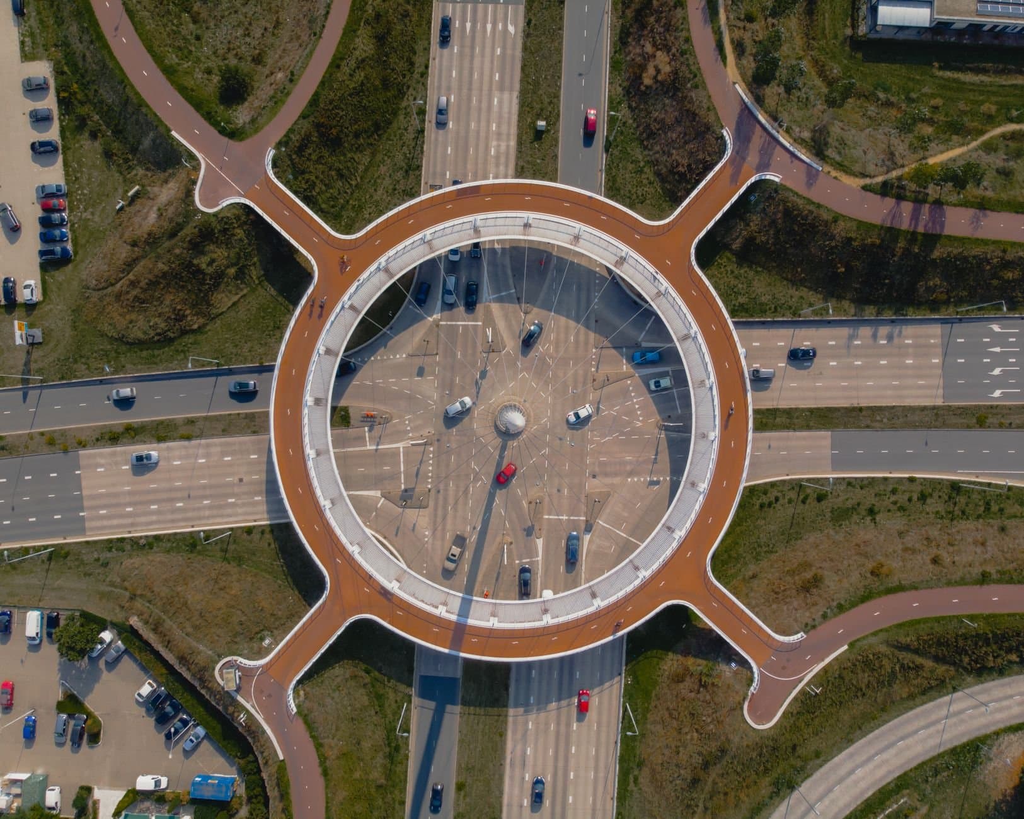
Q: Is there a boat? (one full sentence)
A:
No, the photo shows no boat.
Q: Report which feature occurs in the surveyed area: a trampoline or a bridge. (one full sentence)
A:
Visible in the photo is a bridge.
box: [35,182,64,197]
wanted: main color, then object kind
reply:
blue car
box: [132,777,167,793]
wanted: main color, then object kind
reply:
white vehicle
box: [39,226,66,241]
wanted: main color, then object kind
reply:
blue car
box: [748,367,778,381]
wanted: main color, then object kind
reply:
gray car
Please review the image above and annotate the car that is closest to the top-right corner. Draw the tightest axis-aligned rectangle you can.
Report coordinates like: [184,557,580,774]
[788,346,818,360]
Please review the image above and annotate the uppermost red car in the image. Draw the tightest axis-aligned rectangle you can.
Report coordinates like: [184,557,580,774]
[583,105,598,135]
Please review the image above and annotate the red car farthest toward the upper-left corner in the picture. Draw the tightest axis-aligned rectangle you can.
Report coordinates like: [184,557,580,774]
[37,196,66,211]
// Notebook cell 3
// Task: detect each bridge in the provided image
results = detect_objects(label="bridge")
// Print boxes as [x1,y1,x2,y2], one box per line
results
[224,128,805,715]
